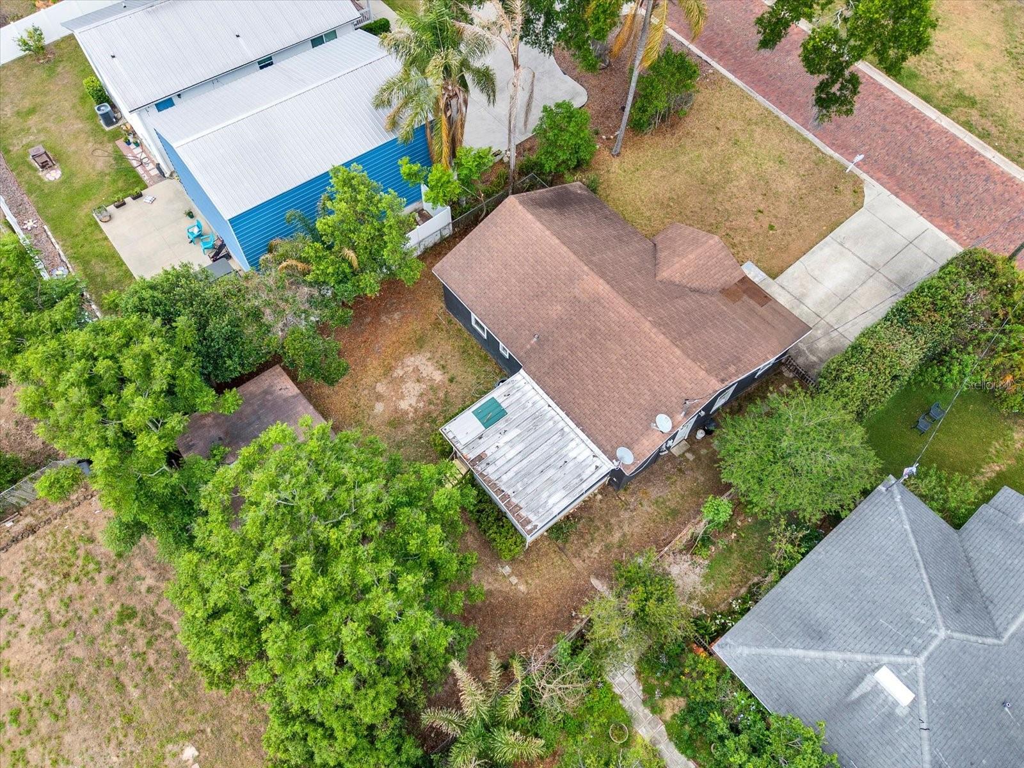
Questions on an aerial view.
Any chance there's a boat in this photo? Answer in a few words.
No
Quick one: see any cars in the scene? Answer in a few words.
No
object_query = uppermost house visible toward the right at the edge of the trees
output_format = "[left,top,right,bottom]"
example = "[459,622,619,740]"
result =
[431,177,810,489]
